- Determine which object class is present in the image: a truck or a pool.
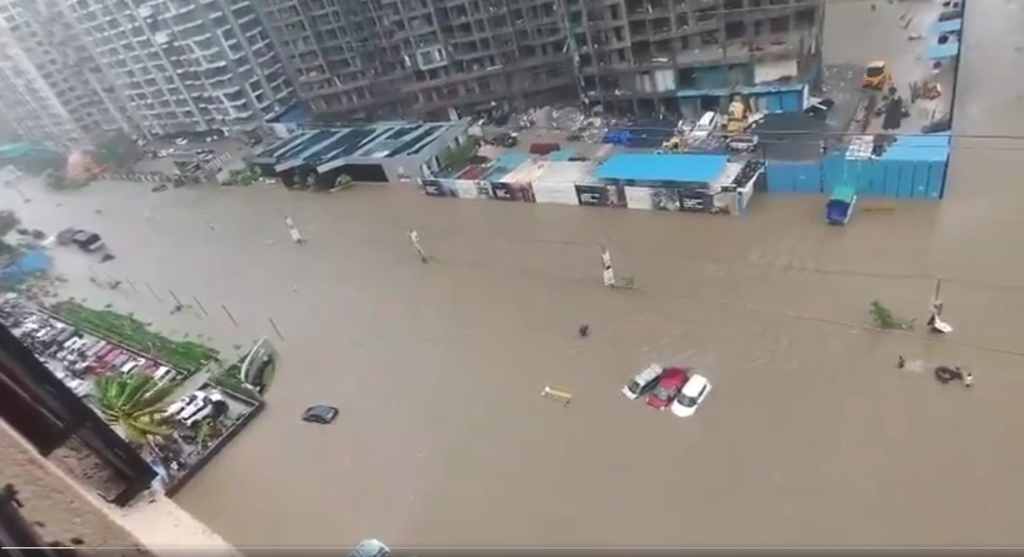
truck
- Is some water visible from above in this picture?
Yes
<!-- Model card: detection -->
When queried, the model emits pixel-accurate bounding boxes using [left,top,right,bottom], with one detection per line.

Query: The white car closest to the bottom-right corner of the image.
[673,376,714,418]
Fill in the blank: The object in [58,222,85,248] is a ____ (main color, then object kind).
gray car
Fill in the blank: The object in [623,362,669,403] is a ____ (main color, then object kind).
white vehicle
